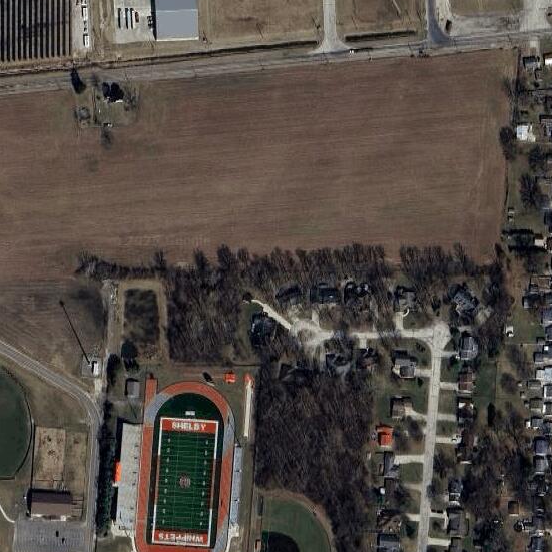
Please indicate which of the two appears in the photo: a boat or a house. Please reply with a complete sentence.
This aerial view contains a house.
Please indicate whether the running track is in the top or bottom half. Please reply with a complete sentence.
The running track sits in the bottom half of the picture.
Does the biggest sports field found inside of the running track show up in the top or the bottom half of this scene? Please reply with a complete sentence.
Seen from above, the biggest sports field found inside of the running track lies in the bottom half of the view.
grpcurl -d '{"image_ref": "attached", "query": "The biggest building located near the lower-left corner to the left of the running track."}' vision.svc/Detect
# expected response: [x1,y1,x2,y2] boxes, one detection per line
[30,488,72,517]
